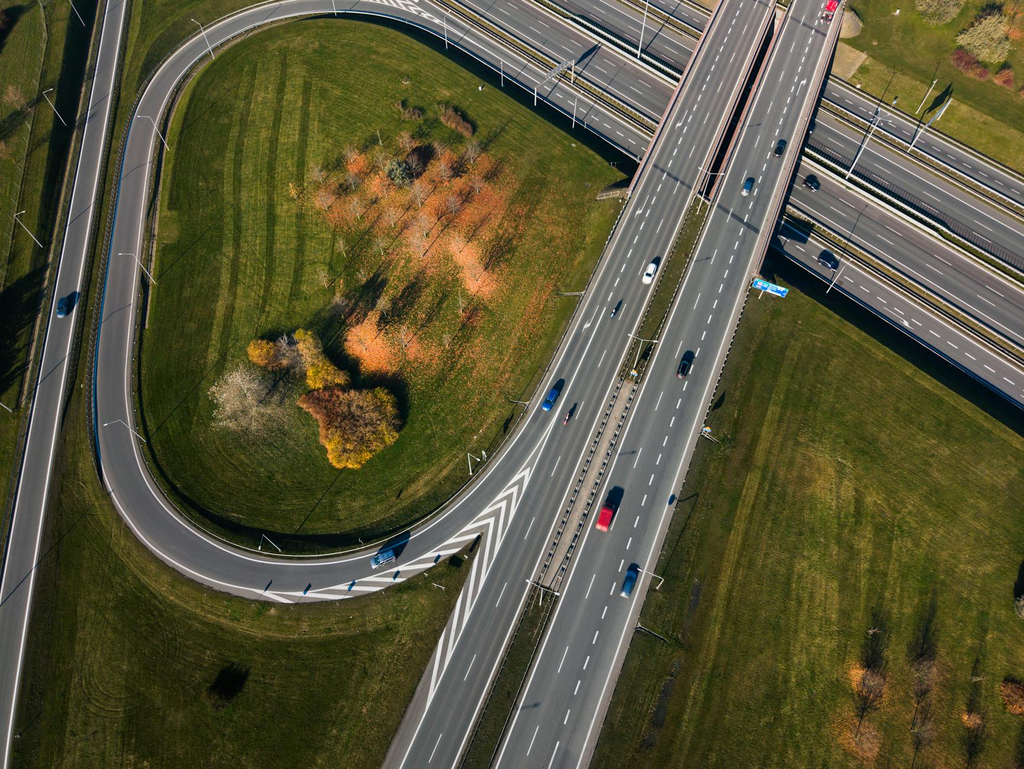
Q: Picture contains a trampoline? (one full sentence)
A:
No, I find no trampoline anywhere in the image.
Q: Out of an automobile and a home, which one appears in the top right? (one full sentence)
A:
The one visible in the top right is an automobile.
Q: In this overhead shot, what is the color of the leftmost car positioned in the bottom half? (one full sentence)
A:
The leftmost car positioned in the bottom half looks blue in the image.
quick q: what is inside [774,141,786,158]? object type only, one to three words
vehicle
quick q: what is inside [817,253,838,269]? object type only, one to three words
car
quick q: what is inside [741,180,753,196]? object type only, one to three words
vehicle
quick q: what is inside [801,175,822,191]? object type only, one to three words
car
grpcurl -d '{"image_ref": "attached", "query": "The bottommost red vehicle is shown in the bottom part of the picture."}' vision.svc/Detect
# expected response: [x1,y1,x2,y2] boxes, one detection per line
[594,500,615,533]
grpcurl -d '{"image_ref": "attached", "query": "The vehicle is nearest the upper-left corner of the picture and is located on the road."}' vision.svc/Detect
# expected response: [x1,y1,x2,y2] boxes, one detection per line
[55,298,68,316]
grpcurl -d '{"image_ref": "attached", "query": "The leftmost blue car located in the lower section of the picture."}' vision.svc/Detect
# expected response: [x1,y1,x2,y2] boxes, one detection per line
[369,548,399,569]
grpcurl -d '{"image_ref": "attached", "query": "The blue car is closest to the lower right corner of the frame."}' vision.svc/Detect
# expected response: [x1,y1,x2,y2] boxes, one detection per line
[620,566,639,596]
